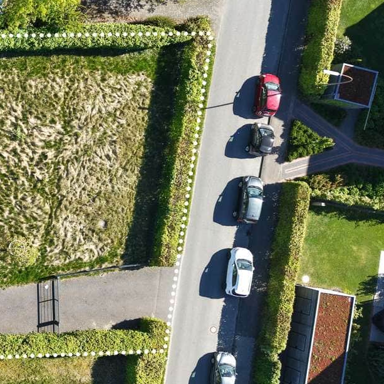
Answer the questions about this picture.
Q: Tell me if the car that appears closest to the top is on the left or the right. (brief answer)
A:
right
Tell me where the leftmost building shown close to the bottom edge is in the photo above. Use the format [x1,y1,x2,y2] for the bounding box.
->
[281,284,355,384]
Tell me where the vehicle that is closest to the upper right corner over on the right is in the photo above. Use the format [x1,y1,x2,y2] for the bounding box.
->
[249,73,283,119]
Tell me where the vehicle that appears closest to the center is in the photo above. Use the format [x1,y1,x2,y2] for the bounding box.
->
[233,174,267,227]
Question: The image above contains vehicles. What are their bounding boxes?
[222,247,256,299]
[249,73,283,119]
[208,350,238,384]
[233,174,267,227]
[244,121,277,159]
